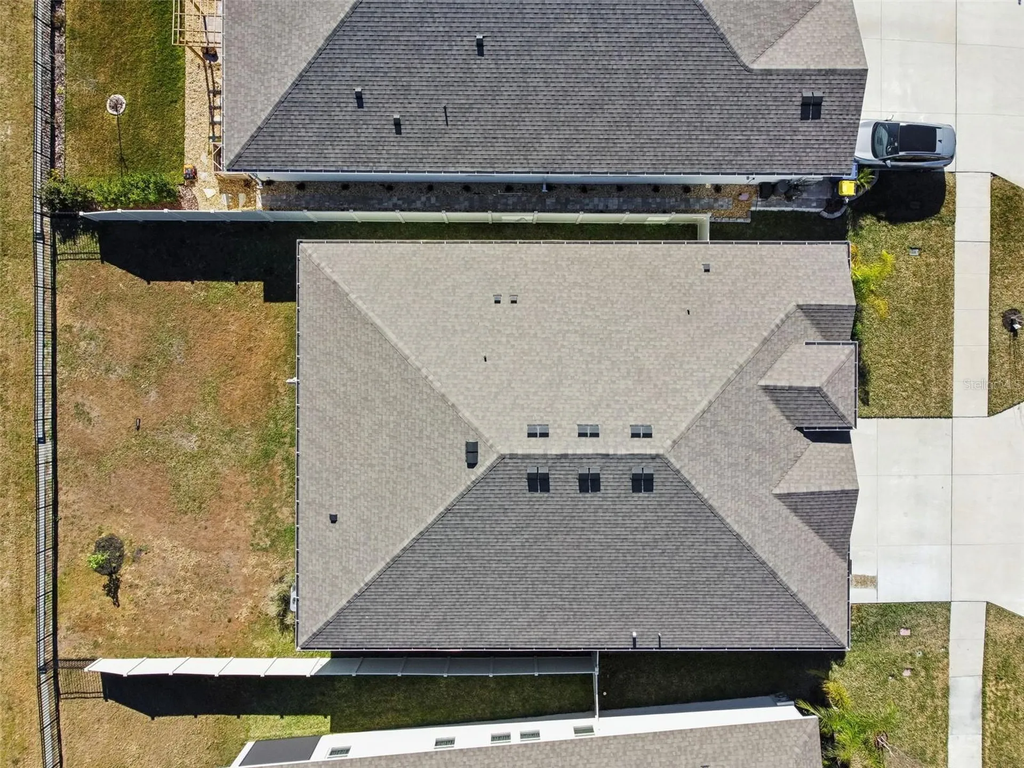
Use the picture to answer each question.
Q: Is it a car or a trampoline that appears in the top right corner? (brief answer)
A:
car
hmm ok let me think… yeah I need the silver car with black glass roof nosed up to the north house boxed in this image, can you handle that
[852,112,957,172]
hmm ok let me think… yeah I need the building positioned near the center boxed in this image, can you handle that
[287,241,858,650]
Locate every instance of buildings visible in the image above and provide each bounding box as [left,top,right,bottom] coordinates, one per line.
[223,0,867,193]
[287,241,858,650]
[228,694,822,768]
